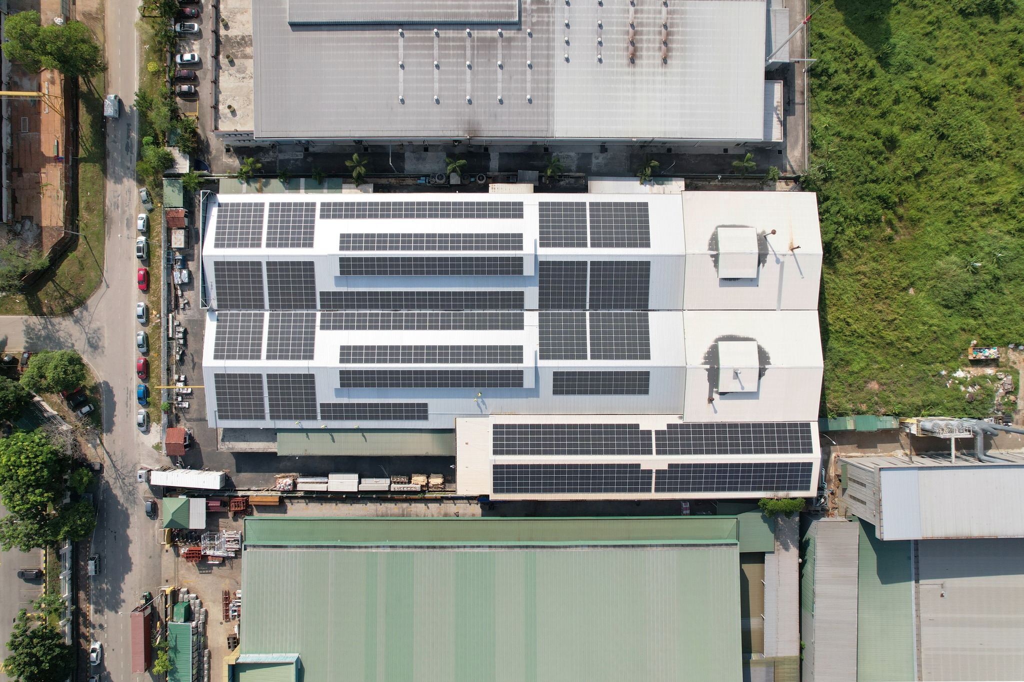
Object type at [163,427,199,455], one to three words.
building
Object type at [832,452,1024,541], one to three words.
building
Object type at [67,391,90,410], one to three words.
car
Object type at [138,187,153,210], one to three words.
car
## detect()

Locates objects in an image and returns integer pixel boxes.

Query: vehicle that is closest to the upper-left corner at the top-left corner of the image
[102,95,121,118]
